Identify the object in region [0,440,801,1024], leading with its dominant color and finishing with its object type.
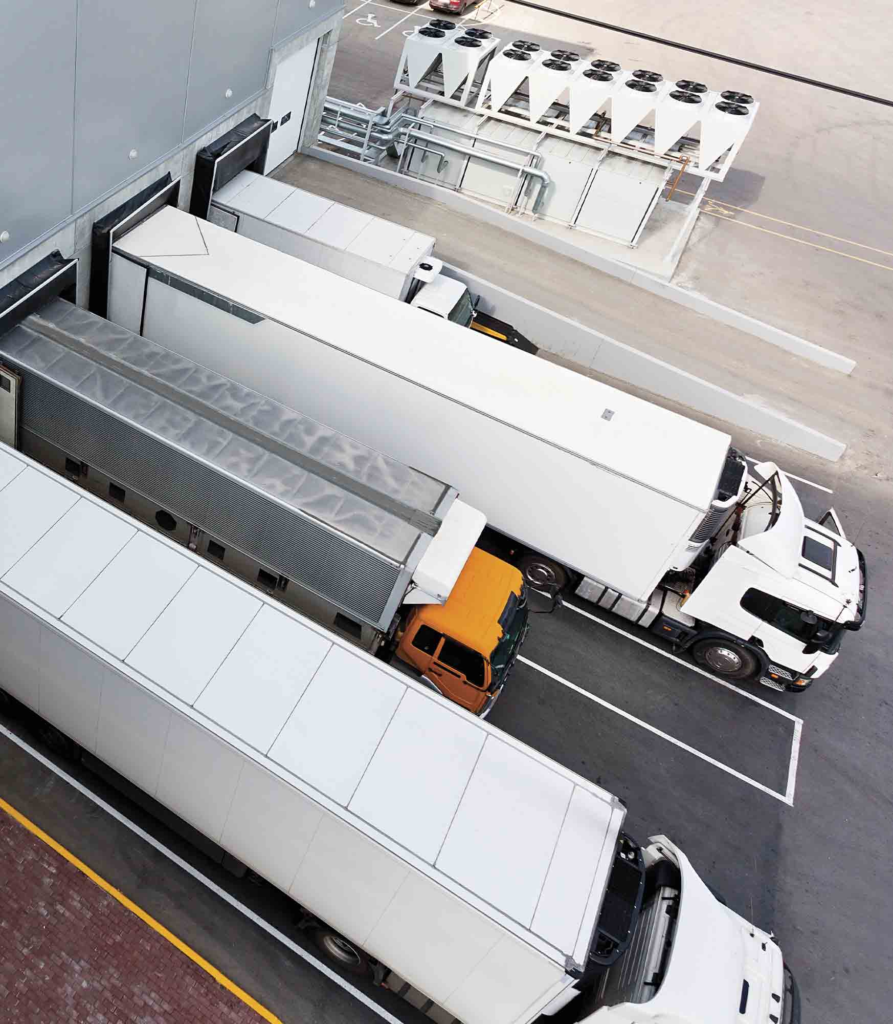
white truck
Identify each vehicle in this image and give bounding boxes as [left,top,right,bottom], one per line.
[0,440,801,1024]
[207,170,487,329]
[431,0,483,16]
[106,206,862,697]
[0,297,557,720]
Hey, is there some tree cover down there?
No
